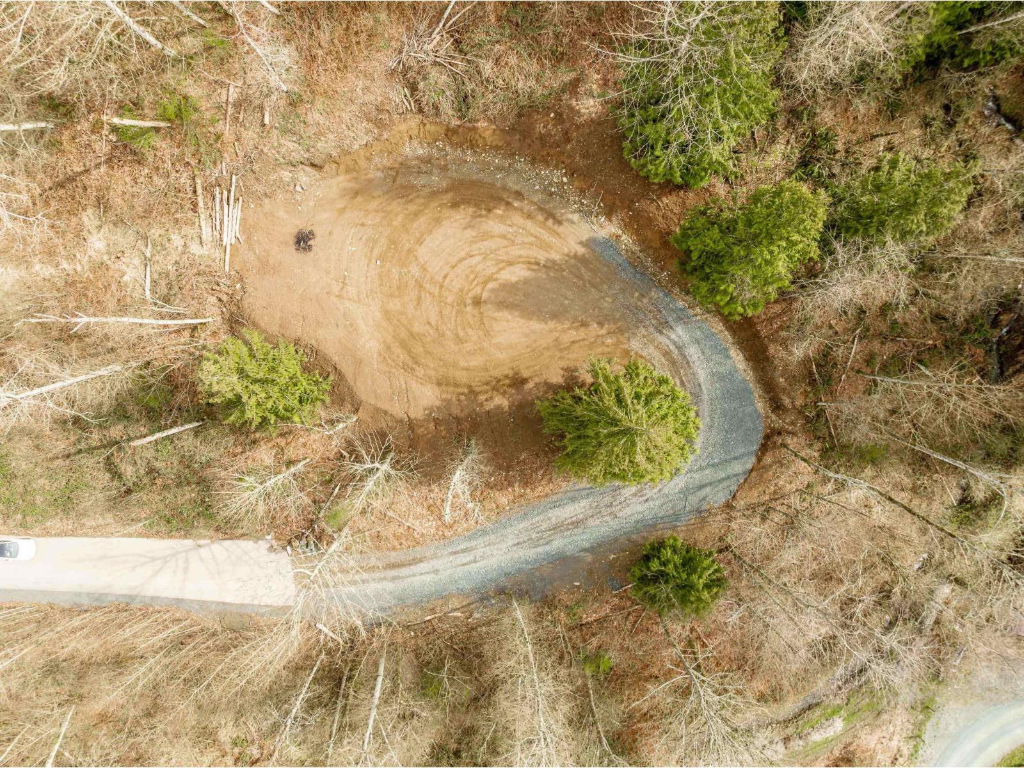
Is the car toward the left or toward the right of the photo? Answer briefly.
left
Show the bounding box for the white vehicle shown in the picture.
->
[0,540,32,569]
